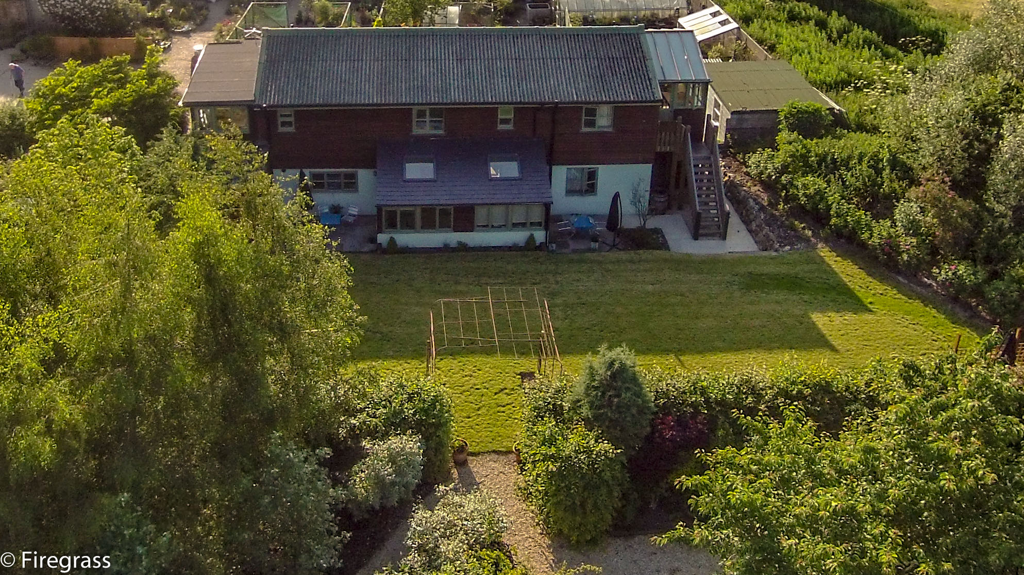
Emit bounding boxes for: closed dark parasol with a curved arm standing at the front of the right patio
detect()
[604,196,622,250]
